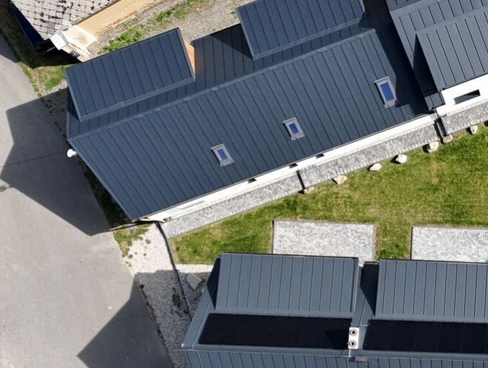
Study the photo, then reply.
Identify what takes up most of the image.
buildings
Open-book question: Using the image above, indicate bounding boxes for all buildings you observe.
[183,249,488,368]
[67,0,441,225]
[14,0,171,45]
